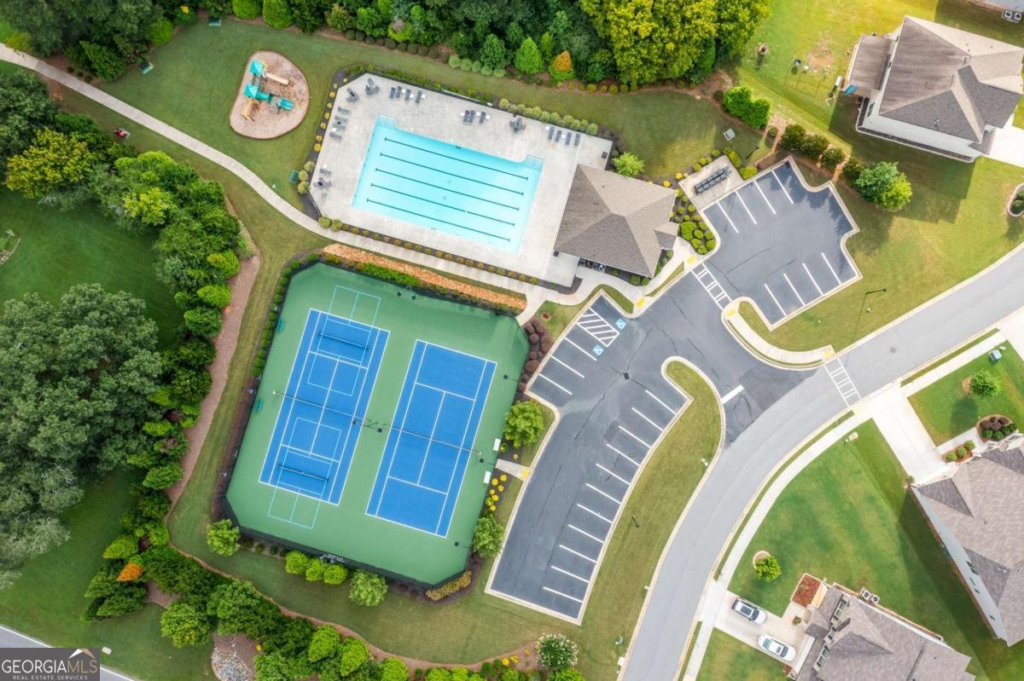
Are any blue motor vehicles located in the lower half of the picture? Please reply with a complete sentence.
No, there is no blue motor vehicle in the lower half of the picture.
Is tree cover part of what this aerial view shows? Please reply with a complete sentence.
Yes, tree cover shows up in the scene.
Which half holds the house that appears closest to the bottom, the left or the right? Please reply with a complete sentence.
You can find the house that appears closest to the bottom on the right side of the picture.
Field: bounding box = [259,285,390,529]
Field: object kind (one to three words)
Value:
tennis court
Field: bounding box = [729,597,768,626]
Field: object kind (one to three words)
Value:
car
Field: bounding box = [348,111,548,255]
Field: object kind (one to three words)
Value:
swimming pool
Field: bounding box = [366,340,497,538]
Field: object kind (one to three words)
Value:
tennis court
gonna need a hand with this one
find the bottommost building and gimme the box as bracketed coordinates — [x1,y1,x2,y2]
[787,583,976,681]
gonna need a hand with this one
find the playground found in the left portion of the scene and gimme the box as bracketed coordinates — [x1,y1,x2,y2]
[240,59,295,122]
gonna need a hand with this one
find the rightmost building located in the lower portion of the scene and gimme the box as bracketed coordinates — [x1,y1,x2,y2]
[909,430,1024,646]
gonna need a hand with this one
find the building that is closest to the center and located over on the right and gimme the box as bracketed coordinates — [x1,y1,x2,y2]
[554,163,679,277]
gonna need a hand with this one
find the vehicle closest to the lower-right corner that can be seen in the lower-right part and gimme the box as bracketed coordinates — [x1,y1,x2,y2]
[757,633,796,659]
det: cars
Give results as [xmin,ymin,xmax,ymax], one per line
[757,633,796,659]
[729,597,768,626]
